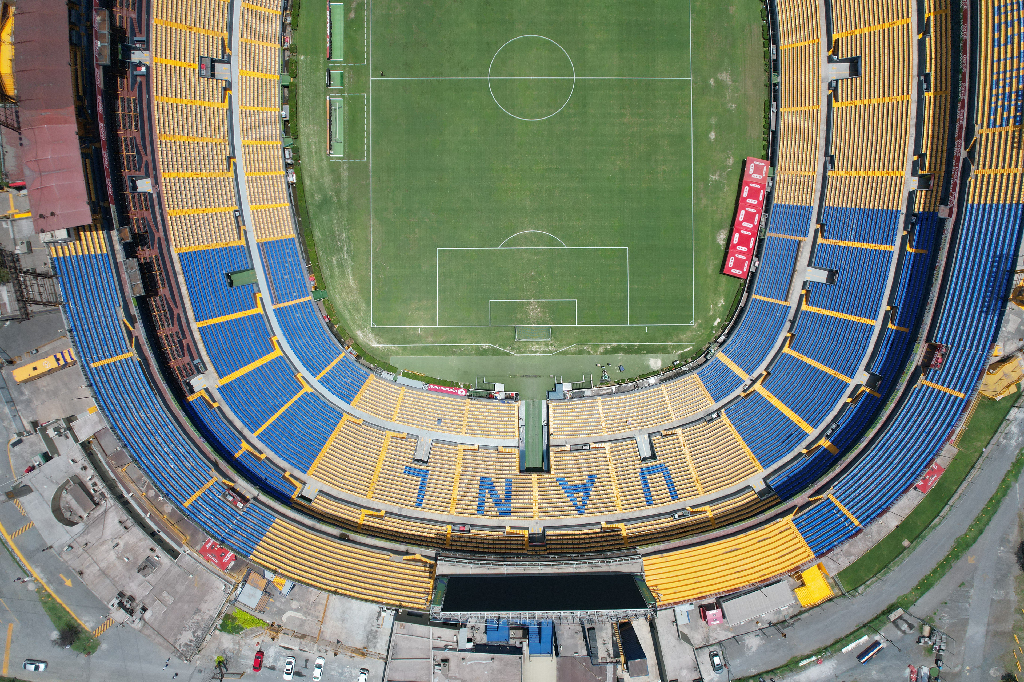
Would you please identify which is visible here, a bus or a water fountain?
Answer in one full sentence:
I can see a bus in this picture.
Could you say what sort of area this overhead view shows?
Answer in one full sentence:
This looks like a sports ground.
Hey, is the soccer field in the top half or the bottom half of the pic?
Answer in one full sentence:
You can find the soccer field in the top half.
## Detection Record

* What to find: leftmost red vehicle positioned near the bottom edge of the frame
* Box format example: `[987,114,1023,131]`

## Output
[251,651,264,672]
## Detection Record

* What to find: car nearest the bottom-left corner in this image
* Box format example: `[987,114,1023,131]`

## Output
[22,659,45,672]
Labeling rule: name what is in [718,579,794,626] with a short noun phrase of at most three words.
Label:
shed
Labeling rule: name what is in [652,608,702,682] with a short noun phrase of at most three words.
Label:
building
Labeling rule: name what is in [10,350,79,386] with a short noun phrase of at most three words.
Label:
bus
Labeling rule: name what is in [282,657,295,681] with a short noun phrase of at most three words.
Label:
vehicle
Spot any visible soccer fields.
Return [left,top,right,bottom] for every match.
[238,0,830,403]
